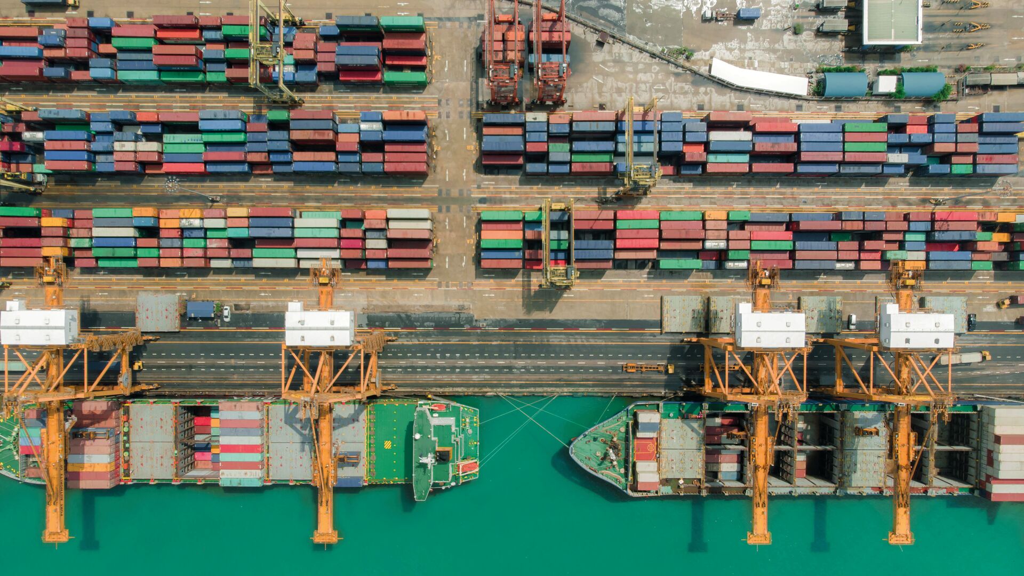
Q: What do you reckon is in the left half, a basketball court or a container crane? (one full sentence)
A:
Visible in the left half is a container crane.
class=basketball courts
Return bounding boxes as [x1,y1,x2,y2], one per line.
[633,436,657,460]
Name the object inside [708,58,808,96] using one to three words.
shed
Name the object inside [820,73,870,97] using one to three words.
shed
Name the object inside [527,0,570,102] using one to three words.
container crane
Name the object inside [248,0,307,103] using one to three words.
container crane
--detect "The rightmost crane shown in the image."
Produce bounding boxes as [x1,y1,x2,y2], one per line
[805,258,955,551]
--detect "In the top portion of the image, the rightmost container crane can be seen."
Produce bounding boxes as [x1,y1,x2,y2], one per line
[611,93,661,192]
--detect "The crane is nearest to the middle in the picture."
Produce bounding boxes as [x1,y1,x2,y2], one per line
[536,197,579,288]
